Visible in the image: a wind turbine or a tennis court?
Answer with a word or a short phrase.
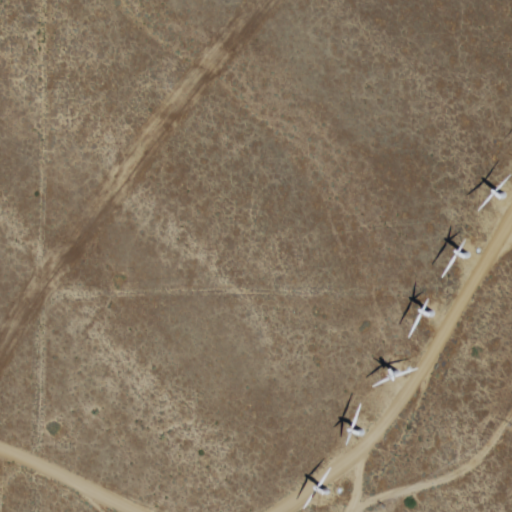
wind turbine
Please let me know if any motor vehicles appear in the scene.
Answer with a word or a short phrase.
No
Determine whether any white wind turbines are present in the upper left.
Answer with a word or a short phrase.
No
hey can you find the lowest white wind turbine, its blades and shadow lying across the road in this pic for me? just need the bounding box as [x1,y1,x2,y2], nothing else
[302,468,332,509]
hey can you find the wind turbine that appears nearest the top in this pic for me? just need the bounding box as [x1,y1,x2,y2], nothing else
[476,172,510,208]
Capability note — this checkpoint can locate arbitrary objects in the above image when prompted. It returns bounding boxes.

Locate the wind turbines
[344,404,366,446]
[408,296,437,336]
[302,468,332,509]
[476,172,510,208]
[374,367,418,388]
[442,238,473,276]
